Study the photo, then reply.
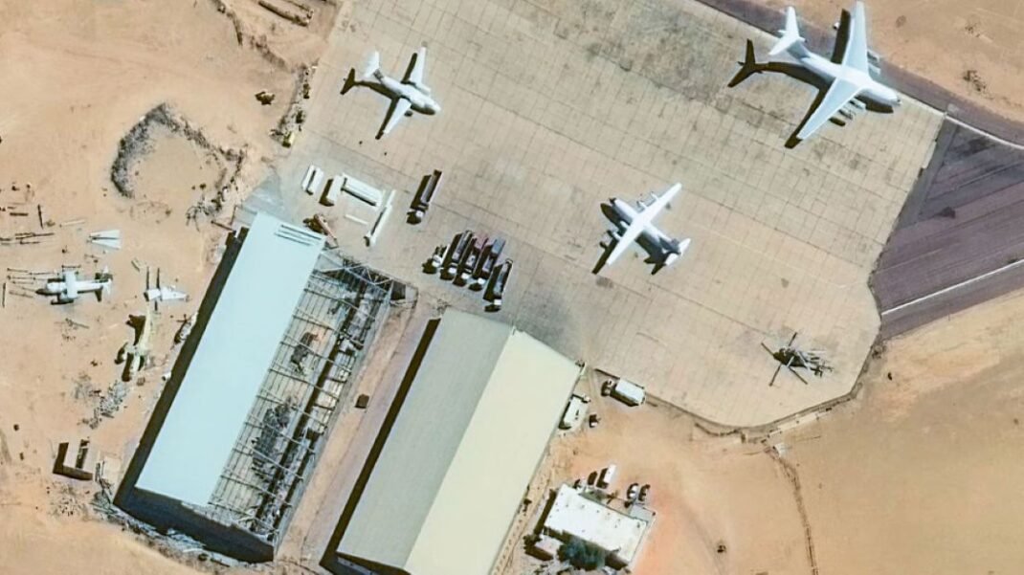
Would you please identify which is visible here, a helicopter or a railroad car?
helicopter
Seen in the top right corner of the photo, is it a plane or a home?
plane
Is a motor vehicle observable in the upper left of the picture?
Yes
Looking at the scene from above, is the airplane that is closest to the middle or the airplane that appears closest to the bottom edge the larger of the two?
the airplane that is closest to the middle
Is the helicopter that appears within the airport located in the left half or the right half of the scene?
right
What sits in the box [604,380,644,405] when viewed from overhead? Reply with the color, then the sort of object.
white truck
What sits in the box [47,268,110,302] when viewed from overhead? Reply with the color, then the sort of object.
white airplane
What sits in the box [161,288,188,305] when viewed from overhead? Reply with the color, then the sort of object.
white airplane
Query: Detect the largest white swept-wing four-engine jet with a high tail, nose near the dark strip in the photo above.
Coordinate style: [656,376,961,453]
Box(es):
[767,2,899,138]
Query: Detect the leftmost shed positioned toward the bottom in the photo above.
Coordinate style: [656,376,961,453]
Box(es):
[64,437,100,481]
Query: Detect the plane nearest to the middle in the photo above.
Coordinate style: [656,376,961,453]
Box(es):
[608,183,688,268]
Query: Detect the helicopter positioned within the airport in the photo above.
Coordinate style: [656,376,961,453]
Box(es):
[769,328,830,382]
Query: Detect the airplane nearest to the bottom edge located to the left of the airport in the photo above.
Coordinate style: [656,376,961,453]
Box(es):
[123,304,149,381]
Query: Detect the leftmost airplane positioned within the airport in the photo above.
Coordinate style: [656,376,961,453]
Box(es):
[362,46,441,132]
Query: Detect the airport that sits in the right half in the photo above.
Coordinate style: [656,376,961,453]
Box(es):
[232,0,1024,428]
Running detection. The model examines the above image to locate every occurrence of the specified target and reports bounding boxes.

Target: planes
[362,46,441,132]
[47,268,110,302]
[161,288,188,305]
[608,183,688,268]
[767,2,899,138]
[123,304,149,381]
